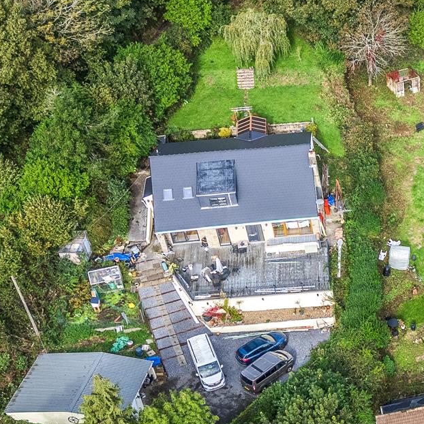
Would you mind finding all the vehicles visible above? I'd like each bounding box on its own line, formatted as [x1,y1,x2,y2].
[185,334,222,385]
[238,349,296,391]
[234,329,287,364]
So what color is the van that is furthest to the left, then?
white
